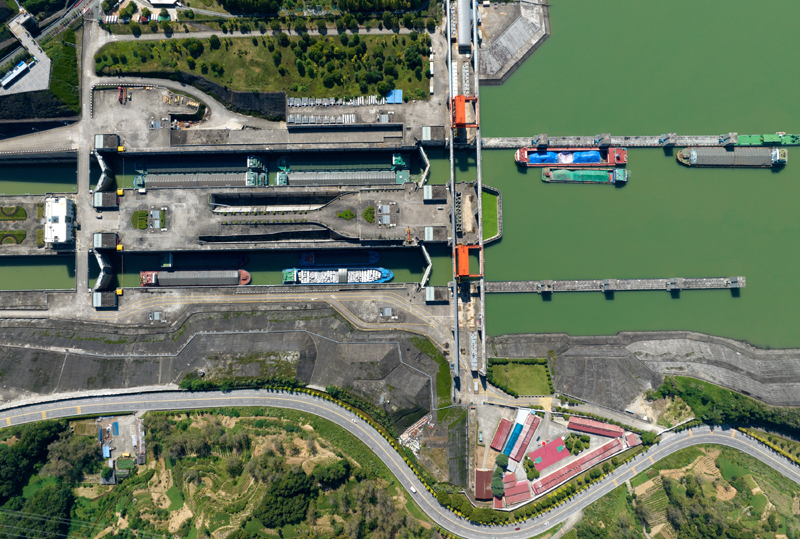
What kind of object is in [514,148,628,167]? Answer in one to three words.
ship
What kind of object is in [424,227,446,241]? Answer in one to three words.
house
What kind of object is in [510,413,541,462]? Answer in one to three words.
building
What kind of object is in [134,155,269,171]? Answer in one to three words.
ship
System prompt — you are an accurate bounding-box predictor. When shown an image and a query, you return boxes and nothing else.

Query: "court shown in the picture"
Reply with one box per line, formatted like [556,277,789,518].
[530,437,570,471]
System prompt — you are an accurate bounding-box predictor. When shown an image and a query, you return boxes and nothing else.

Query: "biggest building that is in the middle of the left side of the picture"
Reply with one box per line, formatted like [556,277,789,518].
[45,197,80,252]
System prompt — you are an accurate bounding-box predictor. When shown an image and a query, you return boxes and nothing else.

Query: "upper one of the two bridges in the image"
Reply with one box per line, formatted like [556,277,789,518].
[77,149,90,195]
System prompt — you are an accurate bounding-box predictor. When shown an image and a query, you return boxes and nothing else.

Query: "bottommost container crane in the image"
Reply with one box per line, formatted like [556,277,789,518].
[453,245,484,280]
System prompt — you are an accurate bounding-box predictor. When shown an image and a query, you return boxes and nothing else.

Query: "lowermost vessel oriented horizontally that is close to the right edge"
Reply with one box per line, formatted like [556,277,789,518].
[677,147,790,167]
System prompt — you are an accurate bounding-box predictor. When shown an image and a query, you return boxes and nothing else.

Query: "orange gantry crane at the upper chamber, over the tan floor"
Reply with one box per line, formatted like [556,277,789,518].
[450,96,480,132]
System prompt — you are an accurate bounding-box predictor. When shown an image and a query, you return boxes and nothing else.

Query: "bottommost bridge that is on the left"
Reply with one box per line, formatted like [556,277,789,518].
[76,251,89,292]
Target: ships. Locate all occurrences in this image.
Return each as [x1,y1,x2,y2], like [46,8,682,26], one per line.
[134,155,269,171]
[541,167,630,183]
[677,147,790,167]
[275,171,409,187]
[514,148,628,167]
[139,270,252,286]
[282,268,394,284]
[133,172,268,188]
[159,252,248,266]
[277,155,409,170]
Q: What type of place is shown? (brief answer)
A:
port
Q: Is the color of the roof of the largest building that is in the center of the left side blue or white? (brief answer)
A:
white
